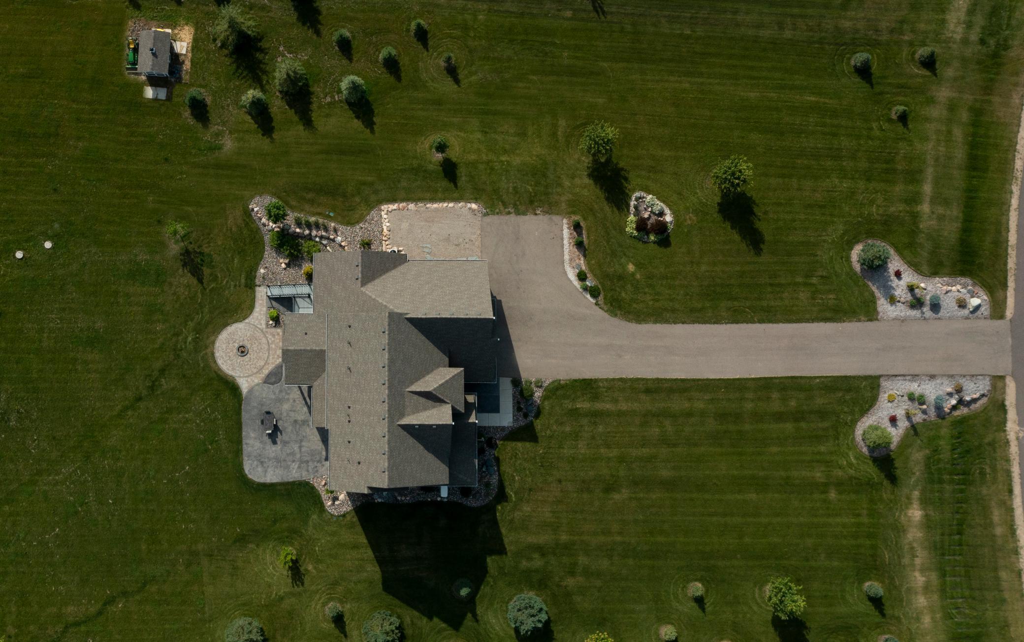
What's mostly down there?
grass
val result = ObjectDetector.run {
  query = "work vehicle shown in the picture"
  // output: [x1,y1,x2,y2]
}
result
[123,39,139,76]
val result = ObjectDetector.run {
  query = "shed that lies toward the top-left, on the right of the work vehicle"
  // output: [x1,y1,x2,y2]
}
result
[137,28,172,79]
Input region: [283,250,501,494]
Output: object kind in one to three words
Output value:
house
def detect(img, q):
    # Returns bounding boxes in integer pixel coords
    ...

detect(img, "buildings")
[137,28,172,79]
[283,250,501,494]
